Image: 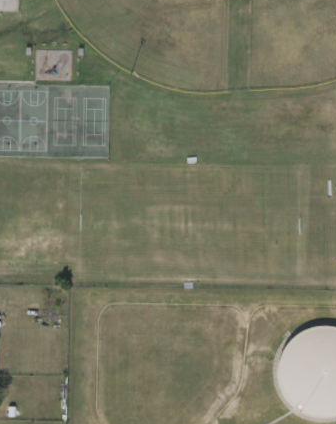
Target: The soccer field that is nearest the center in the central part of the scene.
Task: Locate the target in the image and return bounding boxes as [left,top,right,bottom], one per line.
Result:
[80,164,300,280]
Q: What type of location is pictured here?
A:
sports ground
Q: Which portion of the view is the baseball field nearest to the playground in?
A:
top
